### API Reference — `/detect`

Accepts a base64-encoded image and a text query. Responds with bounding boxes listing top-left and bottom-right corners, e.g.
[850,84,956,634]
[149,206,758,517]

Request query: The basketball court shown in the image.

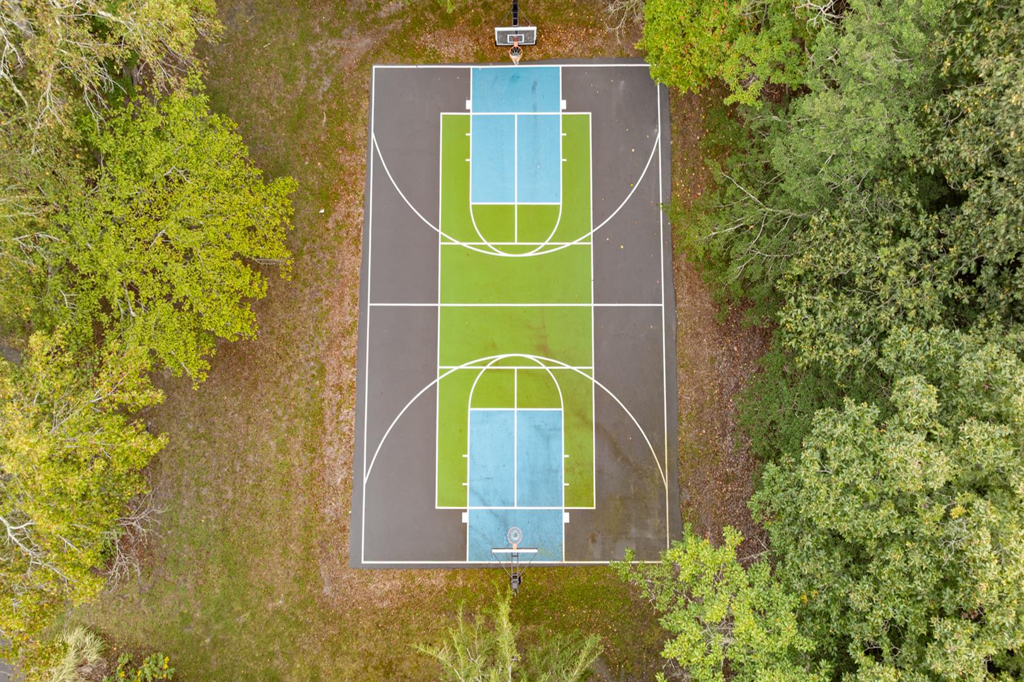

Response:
[349,57,682,570]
